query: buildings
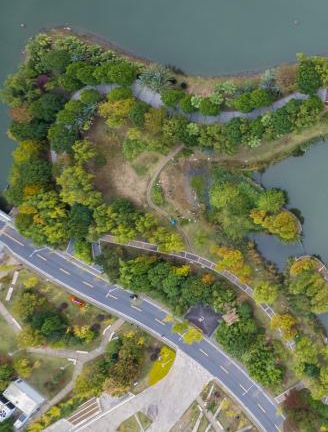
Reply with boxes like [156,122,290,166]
[3,378,48,432]
[185,303,223,338]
